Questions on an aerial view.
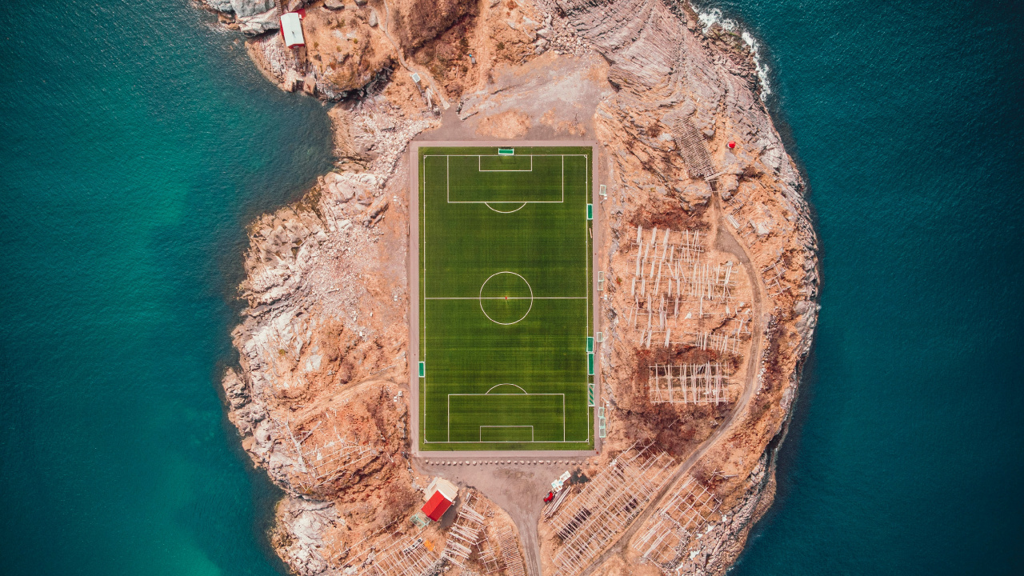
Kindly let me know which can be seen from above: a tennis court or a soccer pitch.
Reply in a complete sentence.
The image shows a soccer pitch.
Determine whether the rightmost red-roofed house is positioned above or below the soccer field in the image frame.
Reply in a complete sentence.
In the image, the rightmost red-roofed house sits below the soccer field.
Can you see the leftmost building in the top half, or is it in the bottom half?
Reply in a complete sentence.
The leftmost building sits in the top half of the picture.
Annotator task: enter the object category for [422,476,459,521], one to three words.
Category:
house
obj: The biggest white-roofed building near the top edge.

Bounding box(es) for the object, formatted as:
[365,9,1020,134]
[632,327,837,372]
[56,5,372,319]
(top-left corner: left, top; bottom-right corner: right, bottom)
[280,7,308,50]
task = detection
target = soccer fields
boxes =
[408,140,600,457]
